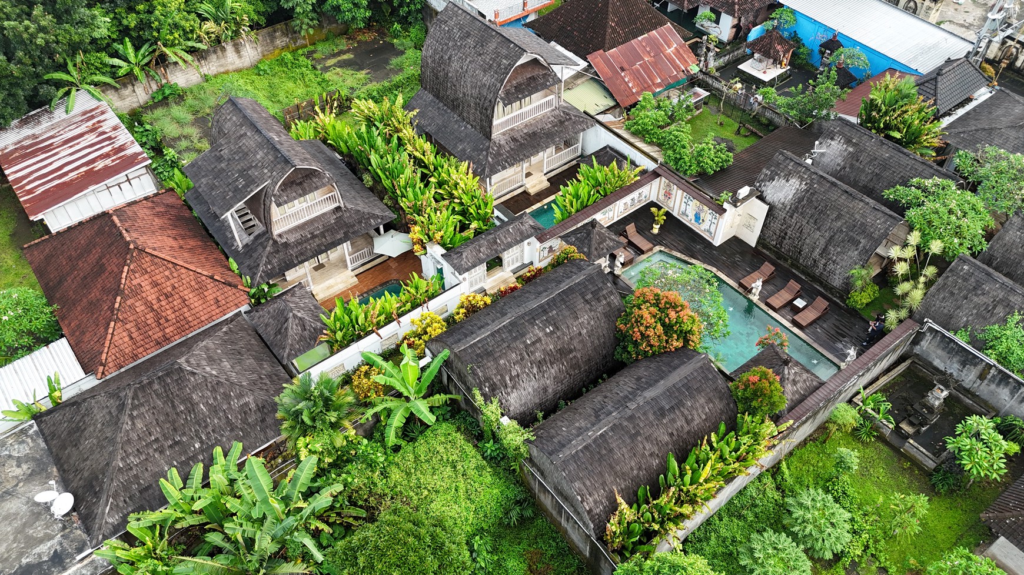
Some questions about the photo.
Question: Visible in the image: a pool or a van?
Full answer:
Of the two, only a pool appears.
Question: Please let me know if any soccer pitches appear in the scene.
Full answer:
No, there isn't any soccer pitch down there.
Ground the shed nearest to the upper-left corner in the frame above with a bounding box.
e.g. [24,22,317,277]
[0,84,159,235]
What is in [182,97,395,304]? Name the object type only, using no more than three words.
house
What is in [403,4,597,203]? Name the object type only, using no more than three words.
house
